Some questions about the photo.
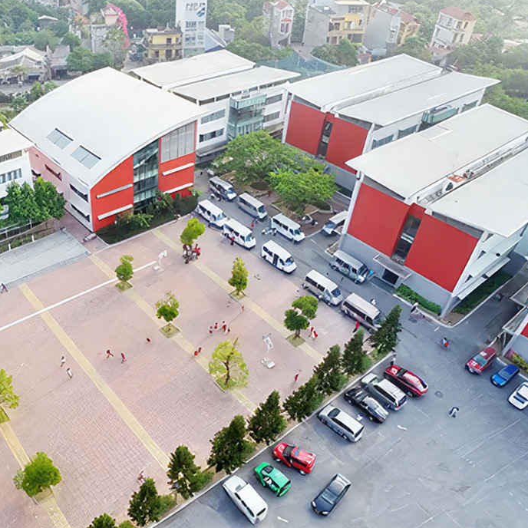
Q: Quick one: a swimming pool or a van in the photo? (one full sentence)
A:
This aerial view contains a van.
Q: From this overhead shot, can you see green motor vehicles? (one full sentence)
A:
Yes, you can see a green motor vehicle in this photo.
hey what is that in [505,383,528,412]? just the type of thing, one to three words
car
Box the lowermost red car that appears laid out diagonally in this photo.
[274,445,316,479]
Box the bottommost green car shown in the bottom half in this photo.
[252,464,289,497]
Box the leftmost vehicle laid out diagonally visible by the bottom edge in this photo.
[227,475,269,526]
